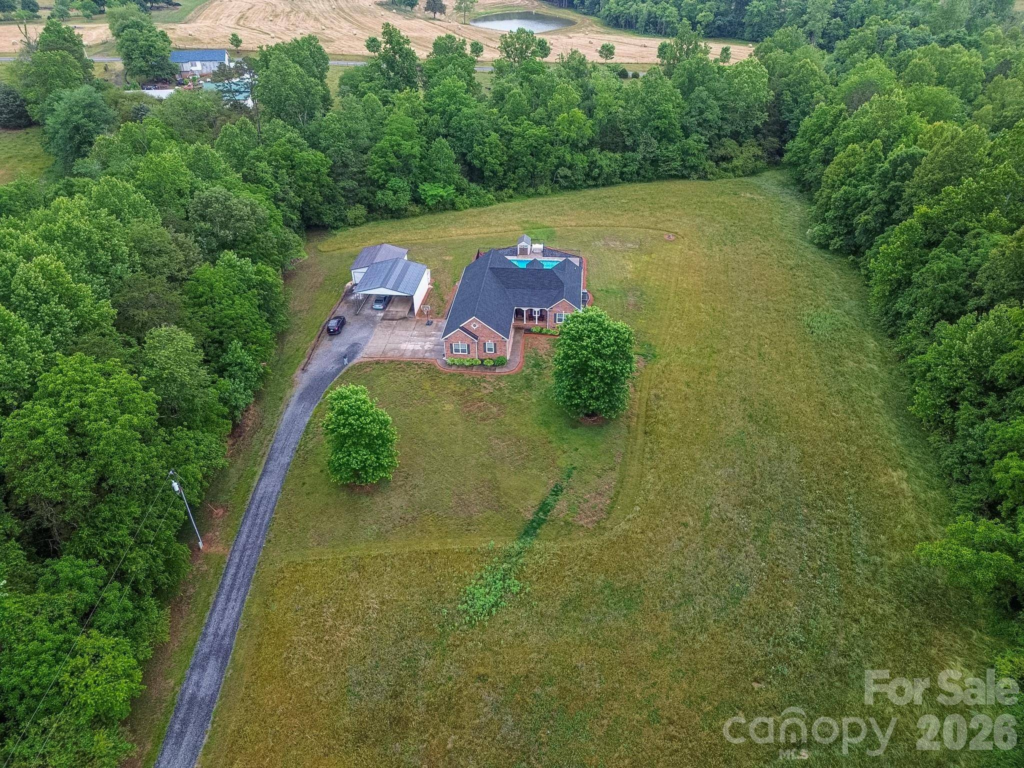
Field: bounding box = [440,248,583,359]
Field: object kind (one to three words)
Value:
house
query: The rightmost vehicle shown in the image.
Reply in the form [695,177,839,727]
[372,295,391,308]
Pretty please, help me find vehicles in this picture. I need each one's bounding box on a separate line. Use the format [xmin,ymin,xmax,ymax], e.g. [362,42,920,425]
[181,82,196,90]
[372,295,391,308]
[327,313,349,333]
[171,78,189,85]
